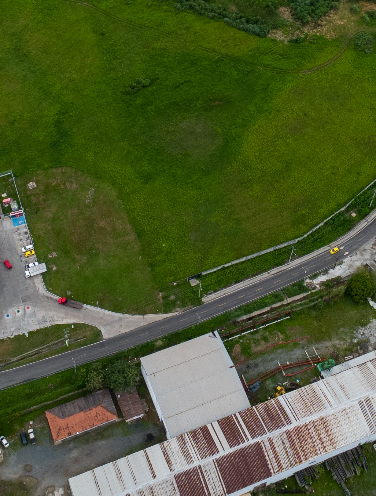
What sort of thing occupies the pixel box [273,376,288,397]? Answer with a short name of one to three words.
work vehicle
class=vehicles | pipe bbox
[25,261,47,274]
[58,293,82,310]
[20,244,33,253]
[0,434,11,450]
[4,259,12,271]
[273,376,288,397]
[24,260,37,271]
[329,247,340,254]
[24,250,35,256]
[20,430,27,446]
